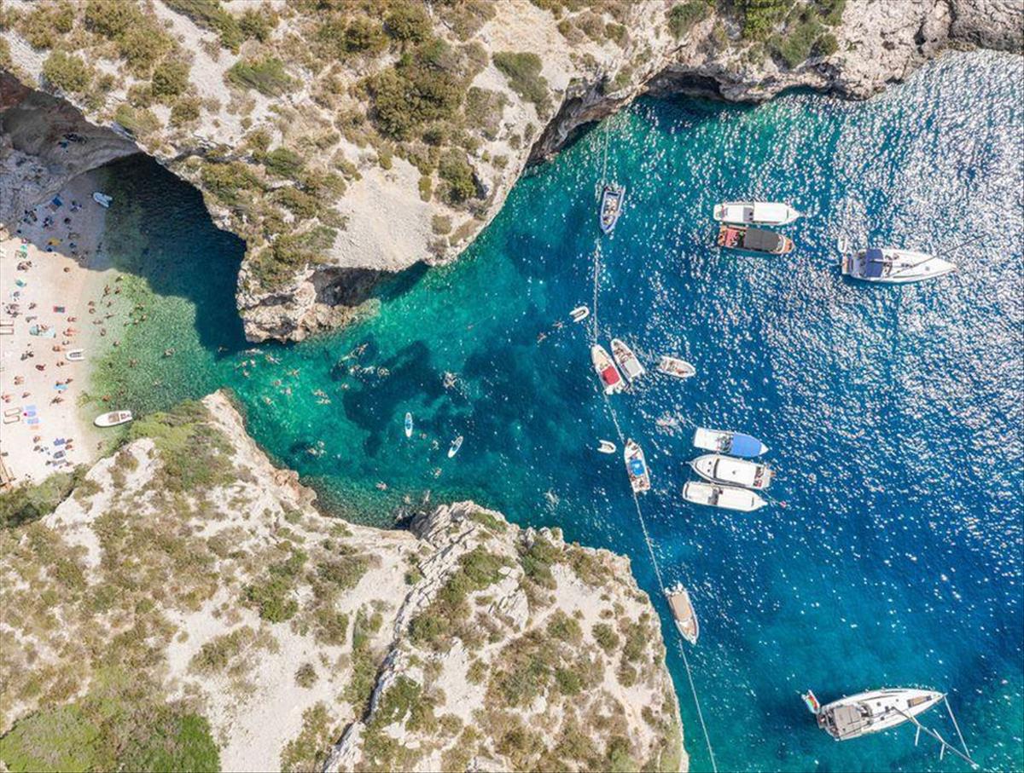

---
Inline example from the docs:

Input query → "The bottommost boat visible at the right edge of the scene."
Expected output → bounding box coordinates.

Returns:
[802,692,978,767]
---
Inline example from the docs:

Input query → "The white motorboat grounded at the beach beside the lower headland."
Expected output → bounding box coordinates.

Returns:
[94,408,138,425]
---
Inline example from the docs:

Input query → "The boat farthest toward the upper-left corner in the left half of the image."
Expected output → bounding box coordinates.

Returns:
[93,190,116,209]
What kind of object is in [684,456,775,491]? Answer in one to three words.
boat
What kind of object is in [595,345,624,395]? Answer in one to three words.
boat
